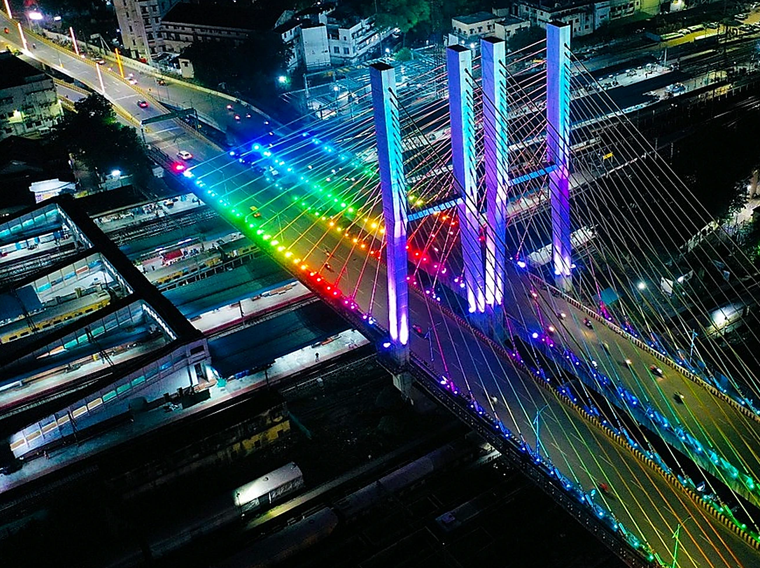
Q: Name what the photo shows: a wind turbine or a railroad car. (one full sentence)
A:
The image shows a railroad car.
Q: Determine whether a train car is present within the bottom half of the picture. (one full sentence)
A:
Yes, looking within the bottom half of the picture, one can make out a train car.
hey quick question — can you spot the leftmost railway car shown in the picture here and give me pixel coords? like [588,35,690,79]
[0,291,103,344]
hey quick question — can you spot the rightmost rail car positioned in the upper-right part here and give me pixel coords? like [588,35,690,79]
[688,82,743,108]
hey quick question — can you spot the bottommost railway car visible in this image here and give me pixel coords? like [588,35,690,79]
[188,499,325,568]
